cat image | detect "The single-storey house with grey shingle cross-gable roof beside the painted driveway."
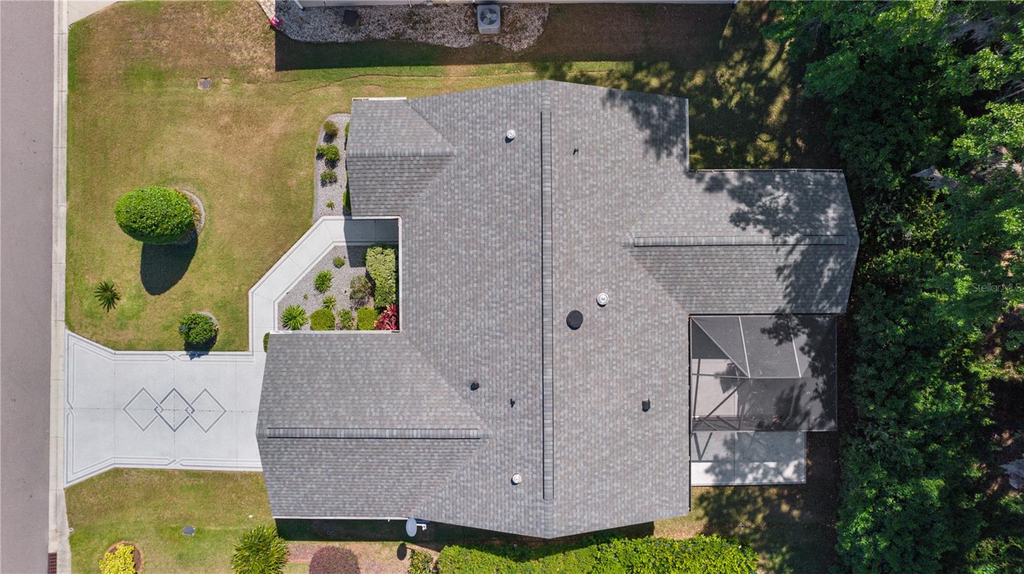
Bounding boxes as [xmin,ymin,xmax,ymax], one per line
[257,79,858,539]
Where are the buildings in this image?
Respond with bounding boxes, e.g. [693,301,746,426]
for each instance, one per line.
[257,79,858,539]
[291,0,737,13]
